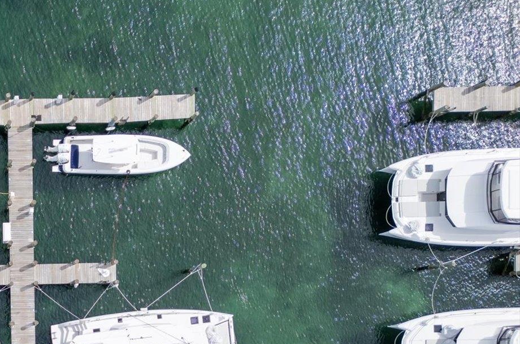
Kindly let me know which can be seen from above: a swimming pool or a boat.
boat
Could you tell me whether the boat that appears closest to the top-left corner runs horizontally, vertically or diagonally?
horizontally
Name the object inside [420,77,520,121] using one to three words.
pier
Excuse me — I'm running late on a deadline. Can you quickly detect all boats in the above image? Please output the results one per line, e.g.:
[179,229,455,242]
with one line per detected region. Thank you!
[41,135,191,175]
[371,147,520,247]
[381,303,520,344]
[51,310,237,344]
